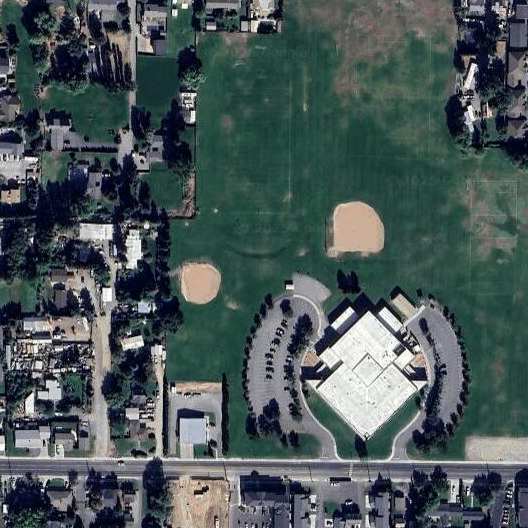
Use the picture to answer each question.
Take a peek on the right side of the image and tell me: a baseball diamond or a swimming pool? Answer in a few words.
baseball diamond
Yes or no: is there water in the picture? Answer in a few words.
No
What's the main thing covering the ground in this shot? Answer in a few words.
grass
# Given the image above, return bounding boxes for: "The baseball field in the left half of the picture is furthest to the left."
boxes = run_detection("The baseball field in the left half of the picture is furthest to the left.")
[170,261,223,305]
